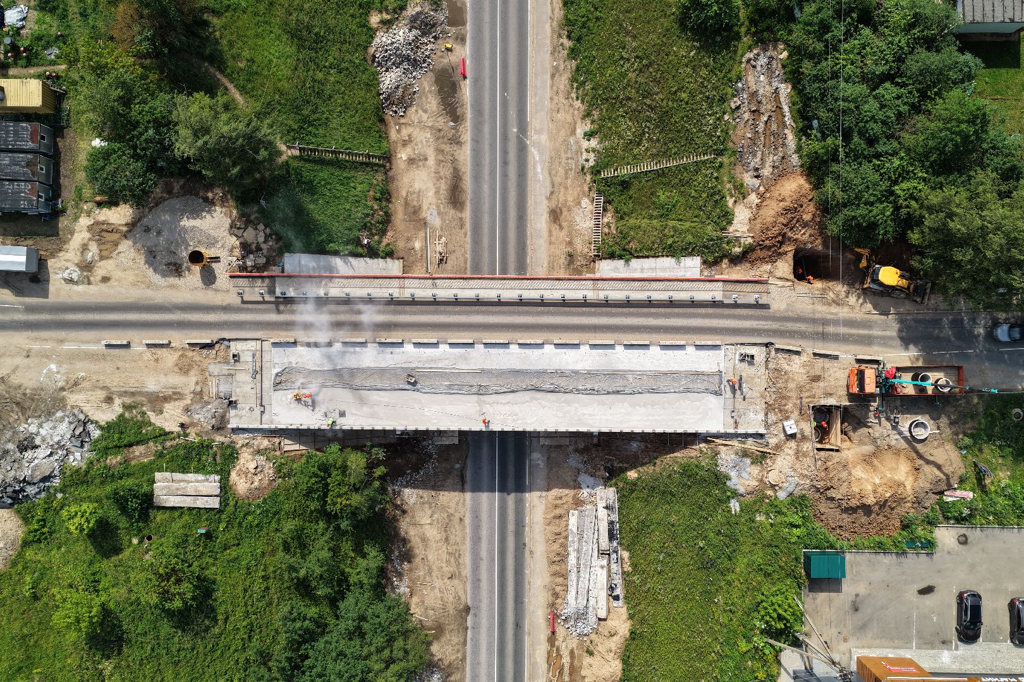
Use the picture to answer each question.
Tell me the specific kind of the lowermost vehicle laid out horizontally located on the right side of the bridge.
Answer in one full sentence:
Specifically, the lowermost vehicle laid out horizontally located on the right side of the bridge is a truck.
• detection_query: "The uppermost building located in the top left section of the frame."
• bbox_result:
[0,124,57,158]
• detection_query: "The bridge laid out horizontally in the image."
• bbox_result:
[228,273,770,443]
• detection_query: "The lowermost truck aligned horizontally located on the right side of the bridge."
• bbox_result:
[847,357,999,413]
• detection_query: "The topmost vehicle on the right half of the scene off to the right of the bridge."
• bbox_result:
[842,245,917,304]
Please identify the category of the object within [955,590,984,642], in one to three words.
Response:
car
